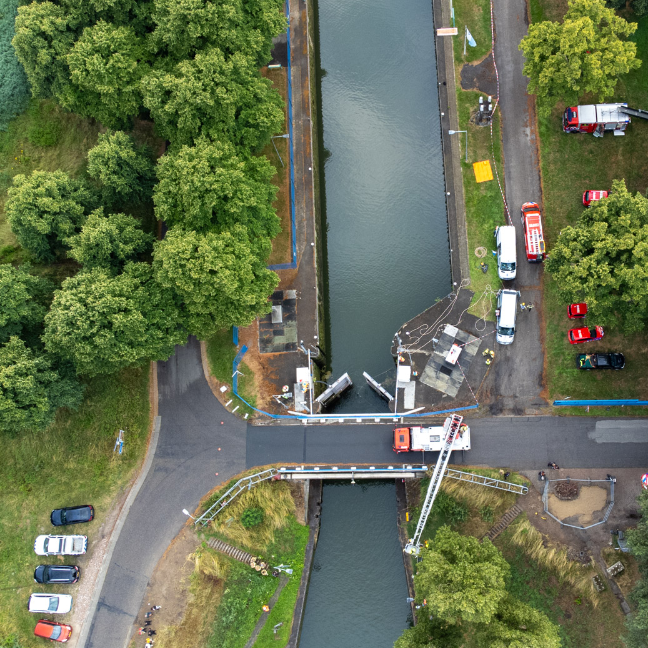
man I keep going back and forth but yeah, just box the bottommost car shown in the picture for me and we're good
[32,618,76,644]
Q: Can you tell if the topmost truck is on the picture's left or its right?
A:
right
